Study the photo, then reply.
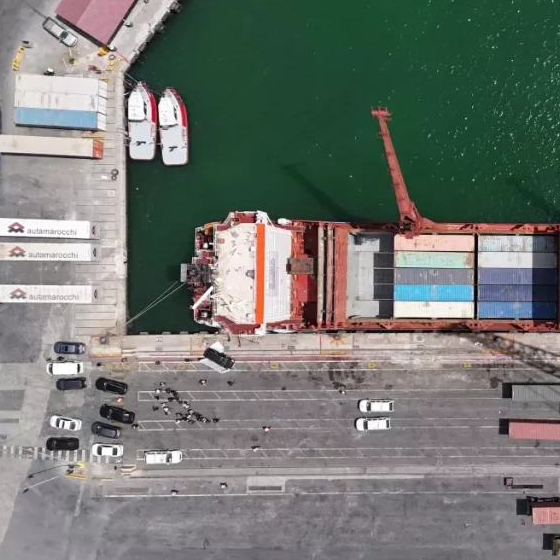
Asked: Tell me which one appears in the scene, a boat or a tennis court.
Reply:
boat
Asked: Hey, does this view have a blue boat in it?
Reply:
No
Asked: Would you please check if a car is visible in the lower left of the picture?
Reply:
Yes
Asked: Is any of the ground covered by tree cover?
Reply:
No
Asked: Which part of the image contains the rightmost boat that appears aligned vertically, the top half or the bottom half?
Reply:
top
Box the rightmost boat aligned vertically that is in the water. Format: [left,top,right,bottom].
[158,87,191,168]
